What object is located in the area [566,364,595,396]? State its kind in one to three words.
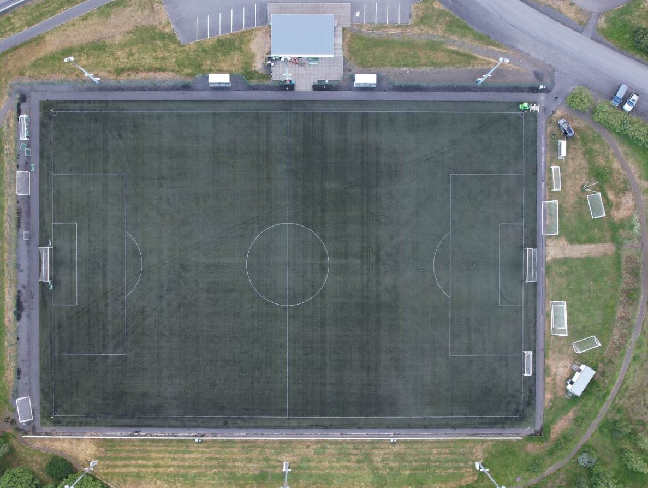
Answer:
building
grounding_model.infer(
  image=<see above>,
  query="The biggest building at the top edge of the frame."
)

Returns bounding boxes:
[270,13,336,58]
